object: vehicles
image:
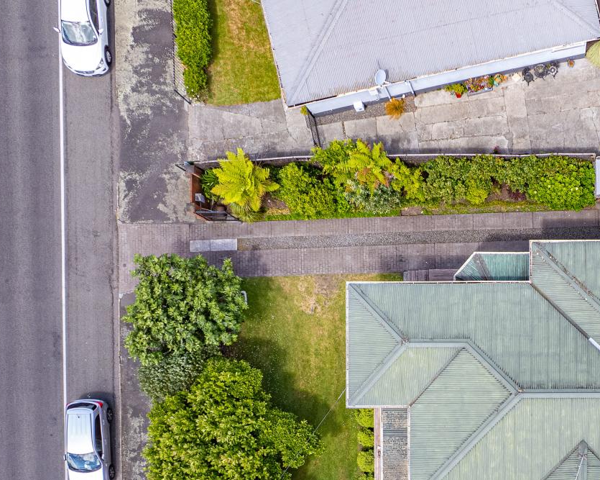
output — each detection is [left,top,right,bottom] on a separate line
[55,0,115,78]
[60,399,118,480]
